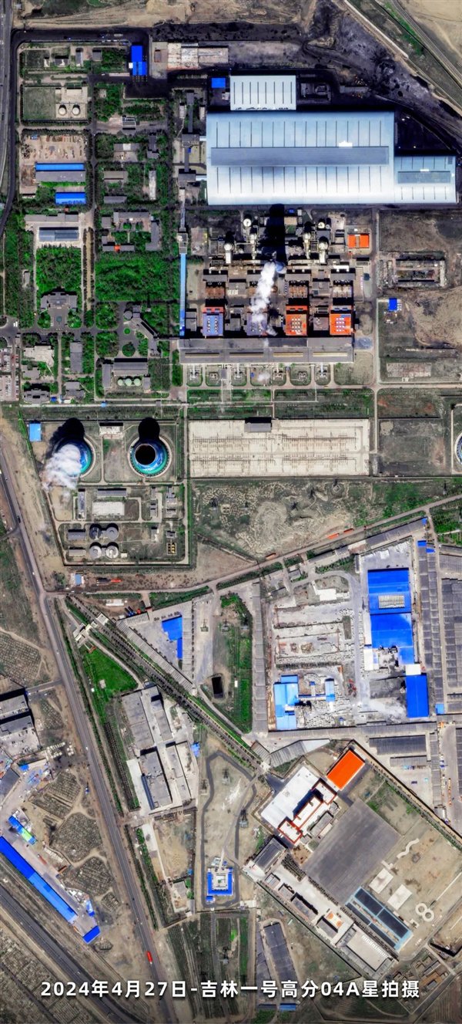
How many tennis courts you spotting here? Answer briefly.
none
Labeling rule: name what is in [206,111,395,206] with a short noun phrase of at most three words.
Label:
shed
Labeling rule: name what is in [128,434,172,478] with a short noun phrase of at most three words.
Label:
cooling tower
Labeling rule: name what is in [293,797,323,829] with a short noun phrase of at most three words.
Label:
building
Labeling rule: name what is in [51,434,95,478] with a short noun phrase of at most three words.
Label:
cooling tower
